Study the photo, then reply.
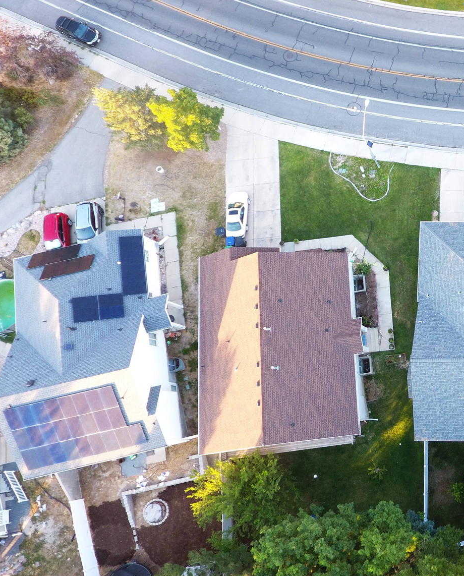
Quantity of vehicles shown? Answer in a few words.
4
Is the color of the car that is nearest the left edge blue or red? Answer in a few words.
red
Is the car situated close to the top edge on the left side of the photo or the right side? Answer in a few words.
left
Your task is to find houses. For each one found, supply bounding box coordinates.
[198,246,383,459]
[0,228,186,481]
[408,220,464,442]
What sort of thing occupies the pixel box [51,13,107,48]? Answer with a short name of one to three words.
car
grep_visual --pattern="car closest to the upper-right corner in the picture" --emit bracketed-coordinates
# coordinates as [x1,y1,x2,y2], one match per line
[225,192,249,241]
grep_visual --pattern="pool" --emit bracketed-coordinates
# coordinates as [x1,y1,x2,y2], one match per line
[0,279,16,335]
